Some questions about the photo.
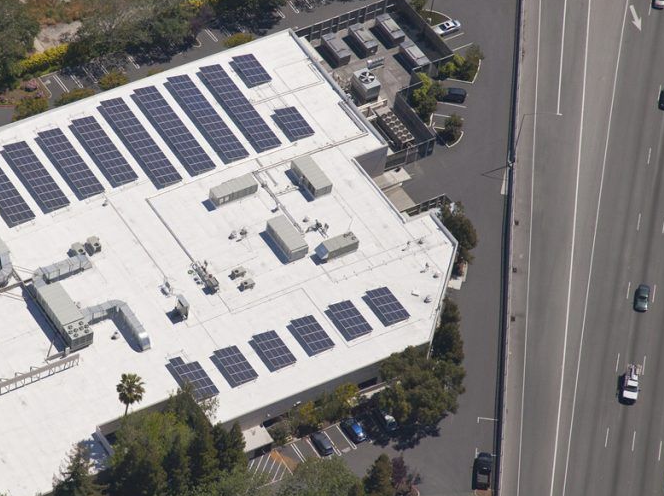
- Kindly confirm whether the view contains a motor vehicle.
Yes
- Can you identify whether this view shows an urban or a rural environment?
urban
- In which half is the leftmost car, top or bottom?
bottom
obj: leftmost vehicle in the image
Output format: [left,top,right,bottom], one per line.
[309,428,336,459]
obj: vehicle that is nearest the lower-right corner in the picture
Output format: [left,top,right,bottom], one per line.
[621,363,640,404]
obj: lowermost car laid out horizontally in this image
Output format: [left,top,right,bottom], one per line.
[439,87,471,103]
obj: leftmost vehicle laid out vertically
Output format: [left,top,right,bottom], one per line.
[473,455,492,489]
